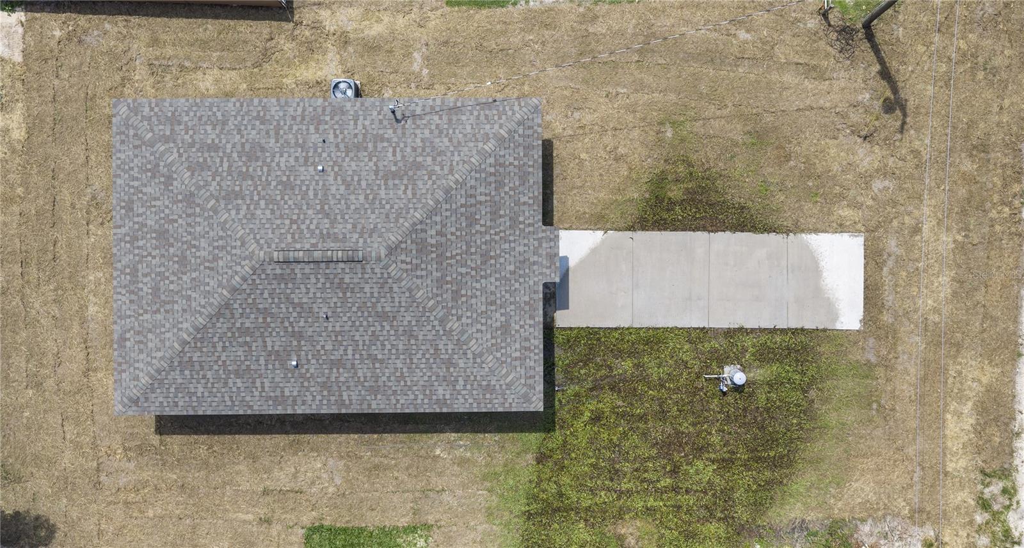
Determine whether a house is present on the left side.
Yes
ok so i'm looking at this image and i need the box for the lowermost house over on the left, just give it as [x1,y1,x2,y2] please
[112,97,559,415]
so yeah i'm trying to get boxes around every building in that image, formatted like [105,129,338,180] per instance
[84,0,292,20]
[112,97,559,415]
